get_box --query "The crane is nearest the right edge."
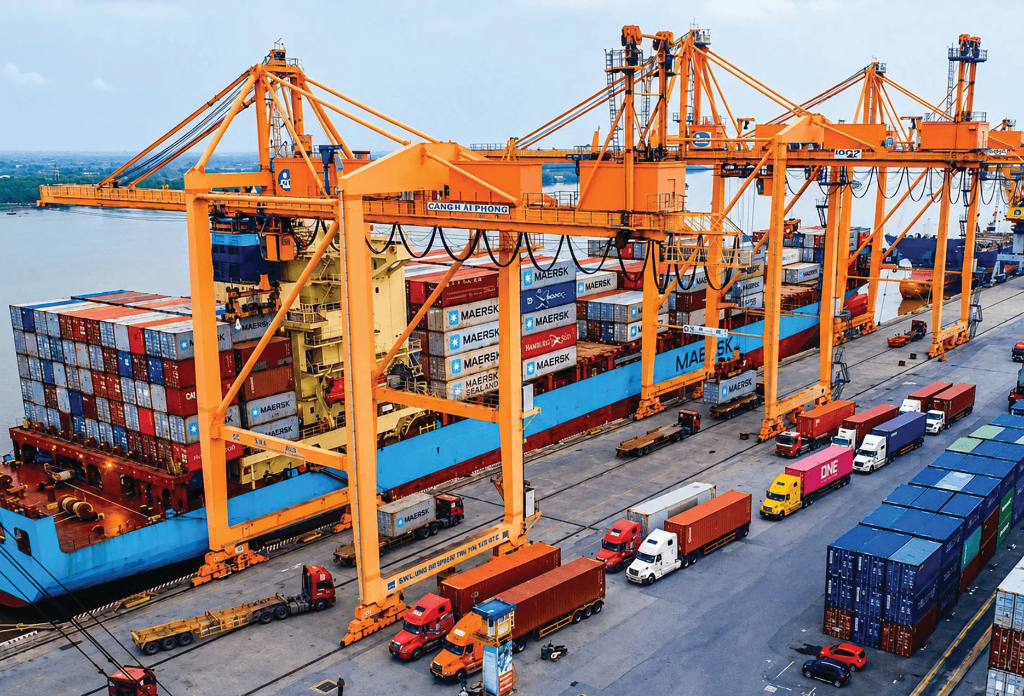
[987,149,1024,284]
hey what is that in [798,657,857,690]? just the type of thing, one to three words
car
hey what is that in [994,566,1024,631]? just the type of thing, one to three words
shipping container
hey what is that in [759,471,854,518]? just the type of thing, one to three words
truck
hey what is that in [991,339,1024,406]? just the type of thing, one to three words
work vehicle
